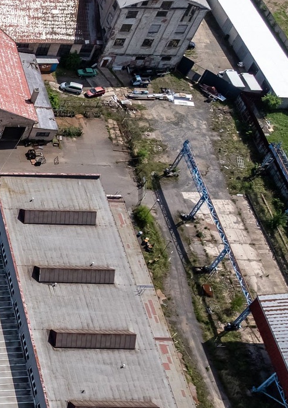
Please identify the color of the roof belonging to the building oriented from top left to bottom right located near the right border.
white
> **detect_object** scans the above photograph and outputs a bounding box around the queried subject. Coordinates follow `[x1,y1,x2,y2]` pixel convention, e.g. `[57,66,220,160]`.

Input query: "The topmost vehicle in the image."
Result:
[186,36,202,51]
